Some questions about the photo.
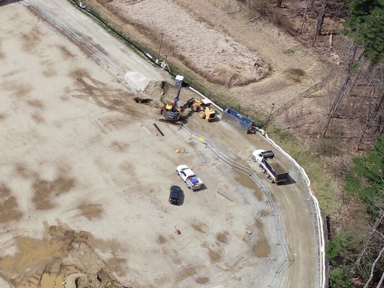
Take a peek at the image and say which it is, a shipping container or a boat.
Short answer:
shipping container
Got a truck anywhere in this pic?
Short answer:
Yes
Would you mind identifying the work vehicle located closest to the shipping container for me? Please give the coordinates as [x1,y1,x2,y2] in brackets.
[183,100,221,121]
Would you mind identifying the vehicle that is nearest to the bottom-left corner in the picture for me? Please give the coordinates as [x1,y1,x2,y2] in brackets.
[163,185,188,209]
